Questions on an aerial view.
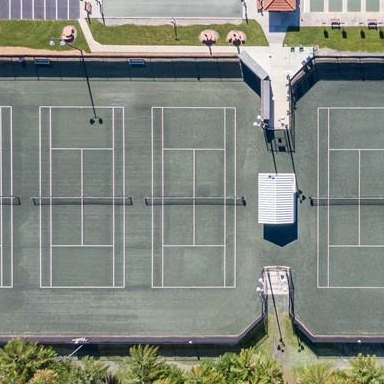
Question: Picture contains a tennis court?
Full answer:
Yes, this view includes a tennis court.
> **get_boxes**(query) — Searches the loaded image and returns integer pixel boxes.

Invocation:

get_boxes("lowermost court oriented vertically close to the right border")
[317,106,384,289]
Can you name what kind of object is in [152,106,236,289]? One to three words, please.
tennis court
